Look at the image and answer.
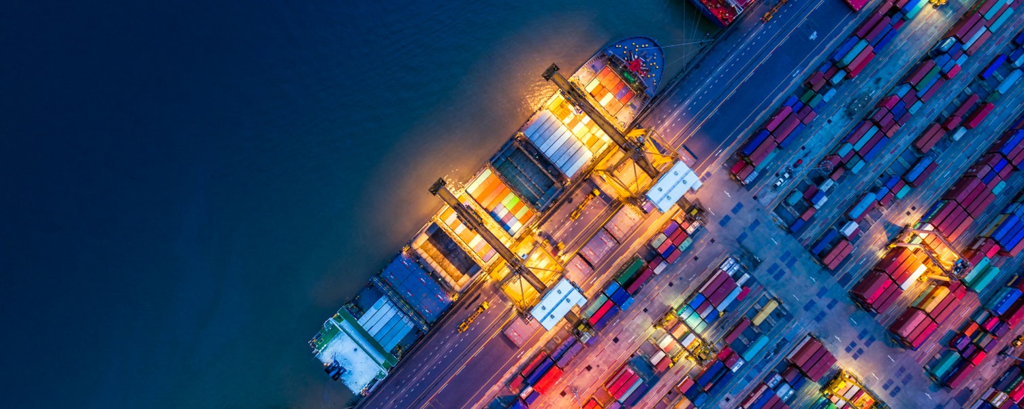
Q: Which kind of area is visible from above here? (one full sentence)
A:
The area seen from above is a port.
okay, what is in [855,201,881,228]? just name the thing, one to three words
shipping container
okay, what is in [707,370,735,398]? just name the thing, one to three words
shipping container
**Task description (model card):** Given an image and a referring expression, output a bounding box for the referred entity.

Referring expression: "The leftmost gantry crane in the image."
[430,177,602,346]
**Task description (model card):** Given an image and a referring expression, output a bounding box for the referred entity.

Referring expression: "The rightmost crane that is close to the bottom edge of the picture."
[821,370,885,409]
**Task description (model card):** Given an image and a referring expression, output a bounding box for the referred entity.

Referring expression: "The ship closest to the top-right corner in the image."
[688,0,754,27]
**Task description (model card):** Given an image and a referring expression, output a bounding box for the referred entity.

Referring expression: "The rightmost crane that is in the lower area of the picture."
[887,223,970,283]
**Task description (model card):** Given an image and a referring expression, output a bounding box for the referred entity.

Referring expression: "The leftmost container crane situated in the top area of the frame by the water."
[544,61,714,232]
